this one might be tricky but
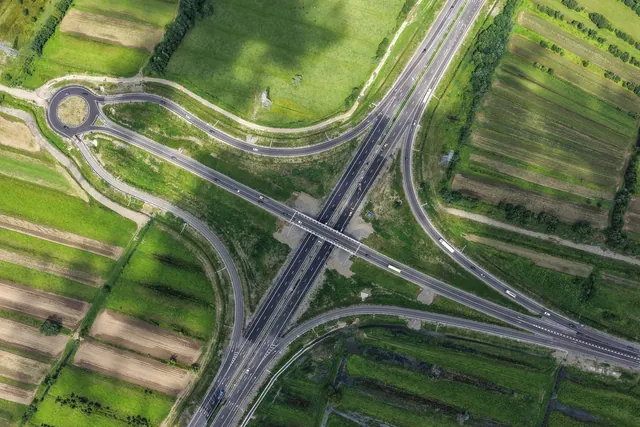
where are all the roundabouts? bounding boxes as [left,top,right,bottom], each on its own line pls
[46,85,98,137]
